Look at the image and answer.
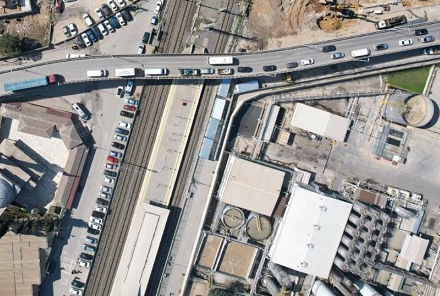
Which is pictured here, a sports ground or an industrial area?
industrial area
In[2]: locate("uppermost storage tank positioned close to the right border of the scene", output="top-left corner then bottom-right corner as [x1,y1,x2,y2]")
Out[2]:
[389,93,437,128]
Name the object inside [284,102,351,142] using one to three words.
shed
